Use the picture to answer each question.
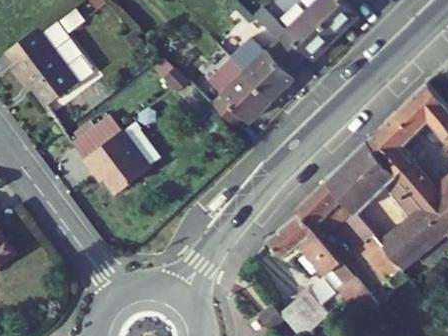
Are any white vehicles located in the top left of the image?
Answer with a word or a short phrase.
No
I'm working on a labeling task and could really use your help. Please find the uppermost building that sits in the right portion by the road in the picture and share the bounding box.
[251,0,359,60]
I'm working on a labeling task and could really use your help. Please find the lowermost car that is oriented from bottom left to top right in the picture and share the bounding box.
[232,205,253,226]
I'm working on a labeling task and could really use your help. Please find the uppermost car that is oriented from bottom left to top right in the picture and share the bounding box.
[362,42,382,62]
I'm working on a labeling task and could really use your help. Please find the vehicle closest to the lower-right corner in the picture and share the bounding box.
[298,162,319,184]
